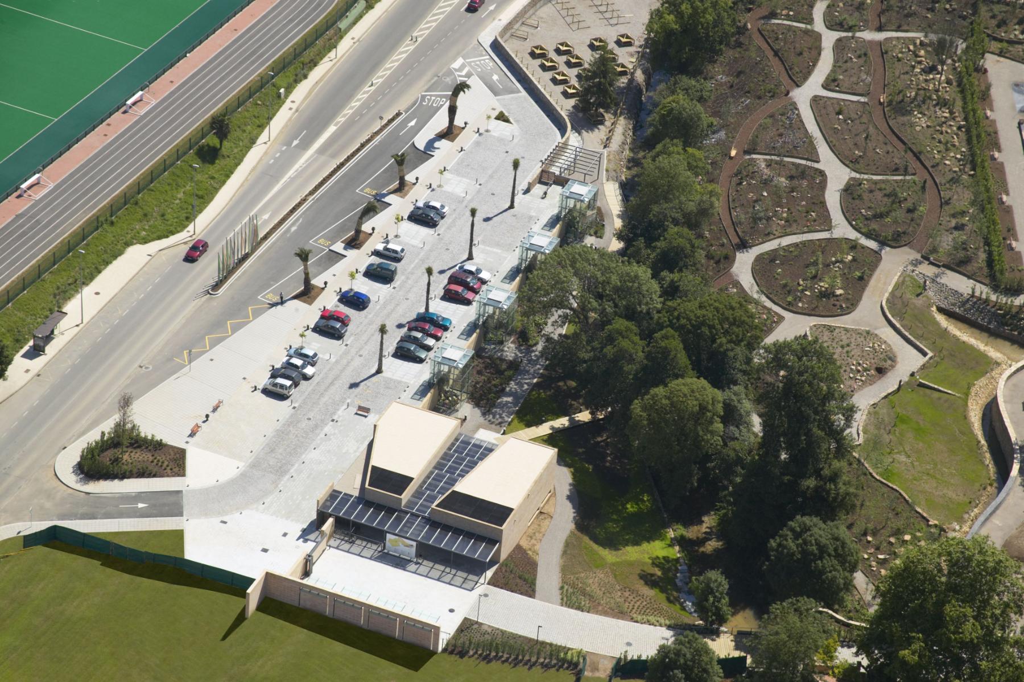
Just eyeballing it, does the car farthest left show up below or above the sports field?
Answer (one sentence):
The car farthest left is found below the sports field in the photo.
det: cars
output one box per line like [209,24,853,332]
[398,330,438,351]
[442,284,477,304]
[415,312,453,332]
[311,319,350,339]
[362,261,400,282]
[413,202,450,219]
[406,321,445,341]
[337,292,373,310]
[260,378,297,399]
[373,243,407,262]
[393,340,429,362]
[406,209,443,227]
[184,237,210,260]
[457,265,493,284]
[445,269,484,293]
[285,347,321,366]
[279,358,319,379]
[465,0,487,10]
[318,309,353,327]
[266,367,306,387]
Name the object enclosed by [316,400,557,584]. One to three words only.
building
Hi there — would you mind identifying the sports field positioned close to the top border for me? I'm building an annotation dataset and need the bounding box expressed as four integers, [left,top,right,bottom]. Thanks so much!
[0,0,209,162]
